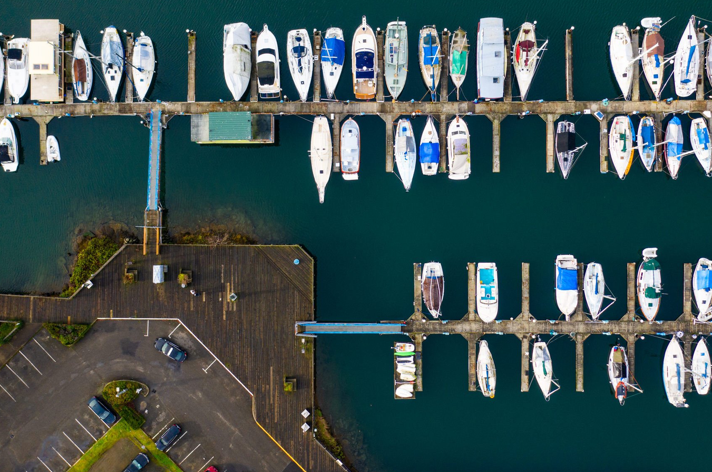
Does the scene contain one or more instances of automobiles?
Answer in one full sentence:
Yes, the picture does show an automobile.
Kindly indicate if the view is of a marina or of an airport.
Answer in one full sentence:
This image shows a marina.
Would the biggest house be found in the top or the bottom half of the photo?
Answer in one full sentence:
The biggest house is in the top half of the image.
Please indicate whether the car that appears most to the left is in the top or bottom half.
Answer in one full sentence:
You can find the car that appears most to the left in the bottom half.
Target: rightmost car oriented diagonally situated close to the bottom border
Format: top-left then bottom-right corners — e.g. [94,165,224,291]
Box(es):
[154,422,185,452]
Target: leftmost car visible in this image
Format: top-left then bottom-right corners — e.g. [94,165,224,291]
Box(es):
[87,395,118,426]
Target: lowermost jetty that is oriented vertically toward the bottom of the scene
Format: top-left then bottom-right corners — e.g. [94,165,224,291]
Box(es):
[394,343,415,400]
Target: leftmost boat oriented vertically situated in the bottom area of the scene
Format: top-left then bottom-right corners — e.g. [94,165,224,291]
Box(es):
[422,259,445,319]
